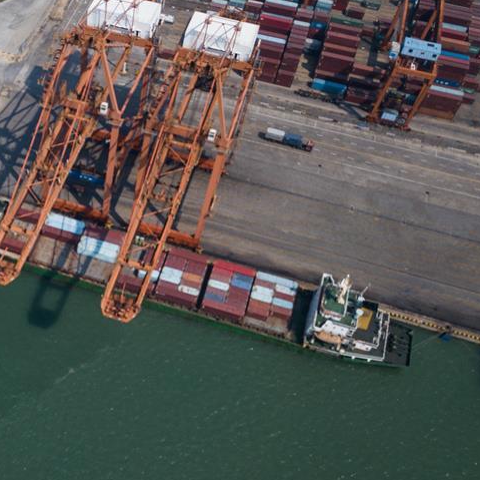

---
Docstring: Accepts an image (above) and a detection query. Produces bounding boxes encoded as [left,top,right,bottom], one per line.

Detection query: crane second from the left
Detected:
[110,11,268,319]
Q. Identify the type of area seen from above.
port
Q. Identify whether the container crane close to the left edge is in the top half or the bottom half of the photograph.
top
